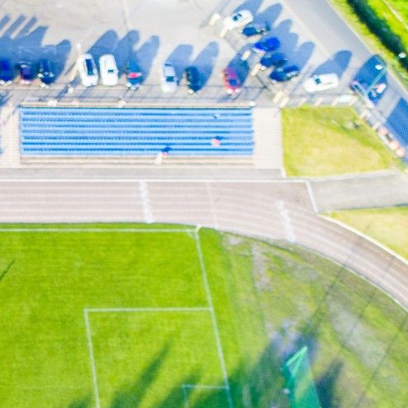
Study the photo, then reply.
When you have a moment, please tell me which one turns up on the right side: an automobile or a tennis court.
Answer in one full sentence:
Visible on the right side is an automobile.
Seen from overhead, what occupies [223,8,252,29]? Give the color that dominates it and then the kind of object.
white car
